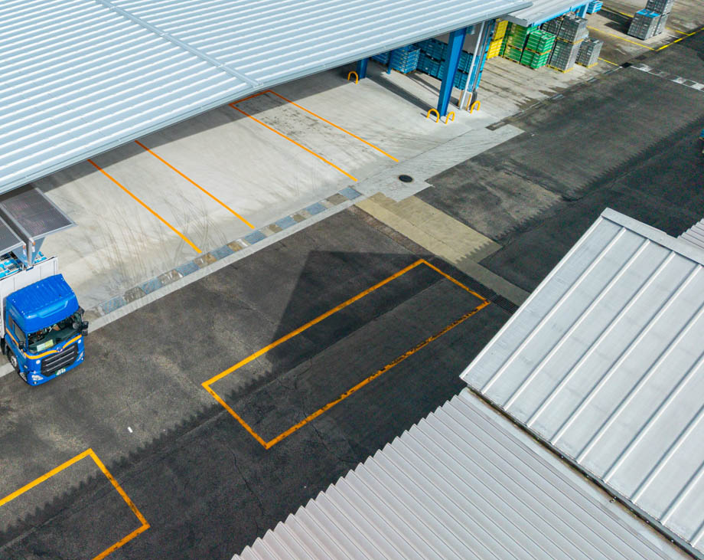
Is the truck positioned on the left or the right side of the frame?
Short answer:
left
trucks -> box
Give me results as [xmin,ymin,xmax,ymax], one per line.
[0,190,90,382]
